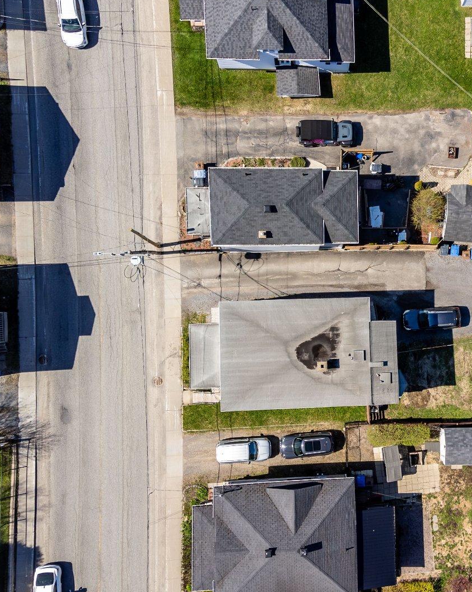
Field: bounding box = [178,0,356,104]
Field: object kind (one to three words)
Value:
house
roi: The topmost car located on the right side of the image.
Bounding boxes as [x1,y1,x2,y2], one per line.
[298,118,353,146]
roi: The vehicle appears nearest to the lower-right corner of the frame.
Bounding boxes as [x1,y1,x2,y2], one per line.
[278,430,336,459]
